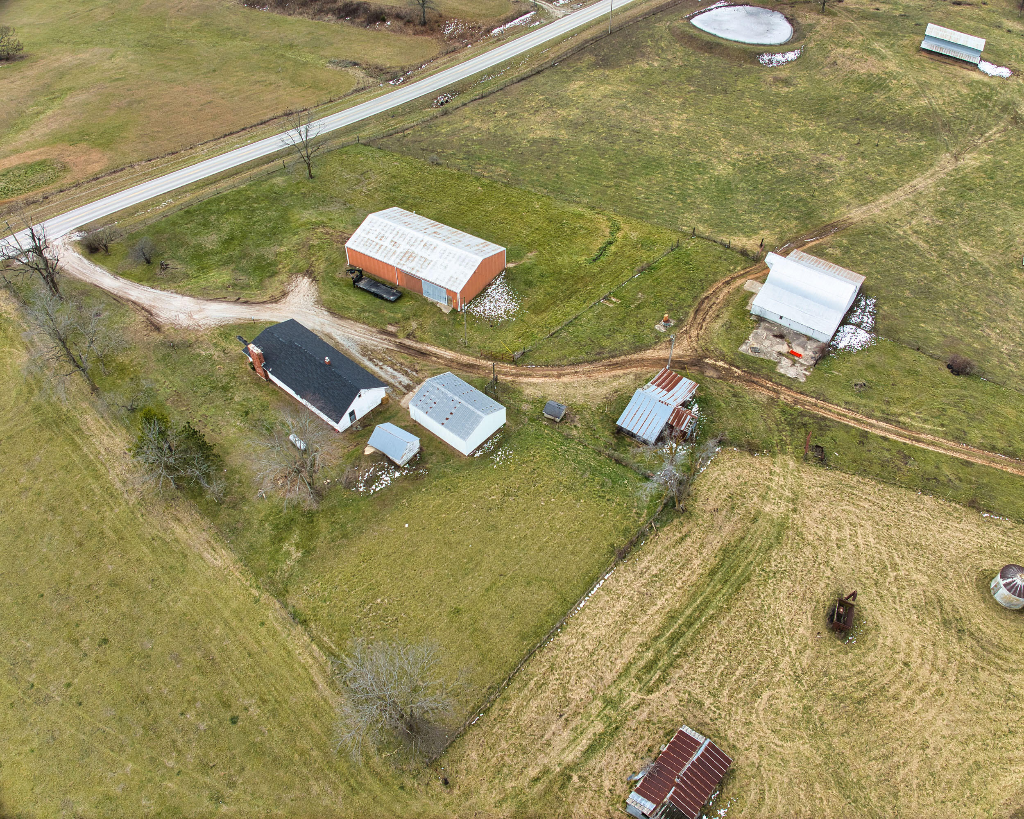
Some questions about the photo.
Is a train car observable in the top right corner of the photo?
No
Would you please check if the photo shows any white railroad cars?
No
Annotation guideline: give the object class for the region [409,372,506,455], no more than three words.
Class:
building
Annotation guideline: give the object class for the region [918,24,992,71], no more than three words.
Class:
shed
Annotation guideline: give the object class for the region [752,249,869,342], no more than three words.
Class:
barn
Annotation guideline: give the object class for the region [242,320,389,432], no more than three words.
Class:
house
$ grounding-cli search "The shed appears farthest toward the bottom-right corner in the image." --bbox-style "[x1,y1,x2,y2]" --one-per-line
[626,725,730,819]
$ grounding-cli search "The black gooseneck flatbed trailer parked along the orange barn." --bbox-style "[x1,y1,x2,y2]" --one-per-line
[348,268,403,303]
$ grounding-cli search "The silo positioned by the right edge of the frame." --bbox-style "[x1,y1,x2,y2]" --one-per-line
[990,563,1024,609]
